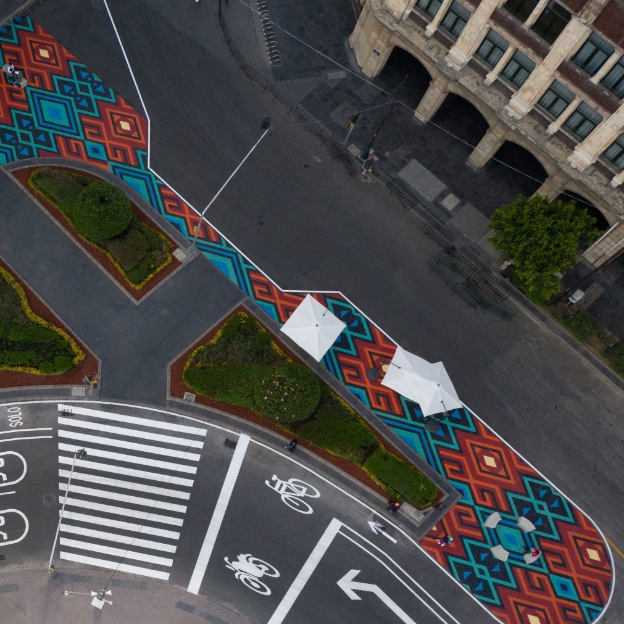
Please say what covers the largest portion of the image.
paved ground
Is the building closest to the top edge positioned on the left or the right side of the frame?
right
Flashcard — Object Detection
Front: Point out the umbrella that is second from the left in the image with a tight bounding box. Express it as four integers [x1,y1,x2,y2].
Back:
[365,346,431,404]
